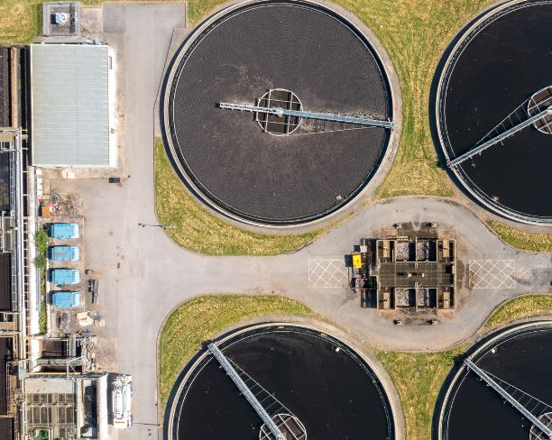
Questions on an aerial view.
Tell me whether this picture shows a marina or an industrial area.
industrial area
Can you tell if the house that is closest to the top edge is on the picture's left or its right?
left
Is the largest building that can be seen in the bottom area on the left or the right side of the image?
right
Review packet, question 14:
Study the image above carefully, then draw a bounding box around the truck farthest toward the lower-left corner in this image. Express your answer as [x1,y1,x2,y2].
[114,373,136,428]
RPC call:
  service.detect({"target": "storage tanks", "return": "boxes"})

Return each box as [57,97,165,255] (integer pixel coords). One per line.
[429,310,552,440]
[160,0,403,235]
[429,0,552,233]
[164,313,407,440]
